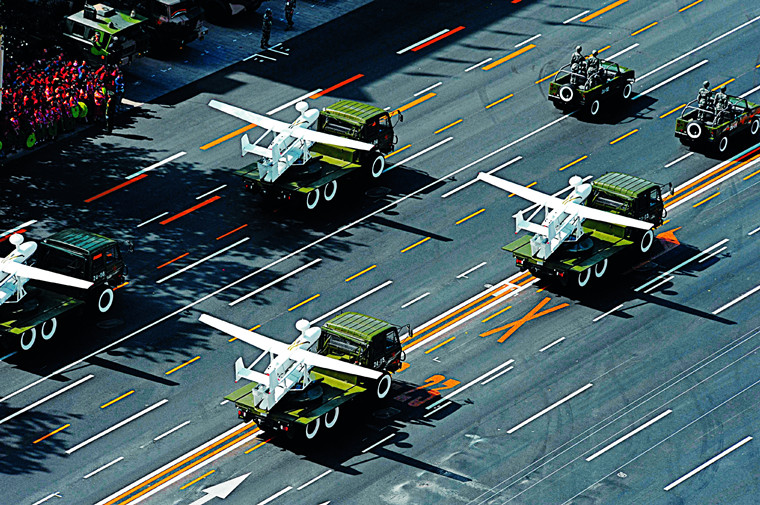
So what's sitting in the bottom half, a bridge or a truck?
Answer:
truck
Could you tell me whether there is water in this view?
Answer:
No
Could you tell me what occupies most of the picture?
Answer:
paved ground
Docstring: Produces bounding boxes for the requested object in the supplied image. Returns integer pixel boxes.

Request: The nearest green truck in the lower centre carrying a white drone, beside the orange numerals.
[226,307,413,439]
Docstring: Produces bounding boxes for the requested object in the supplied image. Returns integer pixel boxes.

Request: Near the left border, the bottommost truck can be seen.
[0,224,132,349]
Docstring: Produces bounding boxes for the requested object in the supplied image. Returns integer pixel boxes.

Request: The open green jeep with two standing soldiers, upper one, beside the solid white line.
[550,55,636,115]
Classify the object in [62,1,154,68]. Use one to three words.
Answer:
vehicle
